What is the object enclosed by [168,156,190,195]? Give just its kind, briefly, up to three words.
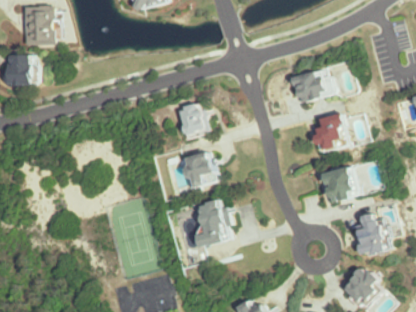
swimming pool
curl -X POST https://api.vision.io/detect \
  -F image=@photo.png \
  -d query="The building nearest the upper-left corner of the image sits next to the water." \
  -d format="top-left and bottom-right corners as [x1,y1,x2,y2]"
[23,2,66,46]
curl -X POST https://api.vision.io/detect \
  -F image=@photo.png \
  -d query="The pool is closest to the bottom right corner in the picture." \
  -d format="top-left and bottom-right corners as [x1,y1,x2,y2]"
[366,290,400,312]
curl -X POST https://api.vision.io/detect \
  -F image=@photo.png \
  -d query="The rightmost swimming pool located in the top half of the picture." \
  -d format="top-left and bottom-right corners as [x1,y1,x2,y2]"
[398,101,416,130]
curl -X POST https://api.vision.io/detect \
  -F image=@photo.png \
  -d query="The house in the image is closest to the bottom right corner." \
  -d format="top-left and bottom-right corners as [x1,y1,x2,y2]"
[344,265,384,311]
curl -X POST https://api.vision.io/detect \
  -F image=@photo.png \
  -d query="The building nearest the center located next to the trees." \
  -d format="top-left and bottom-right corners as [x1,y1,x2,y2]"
[185,150,222,188]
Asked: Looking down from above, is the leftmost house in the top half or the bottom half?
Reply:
top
